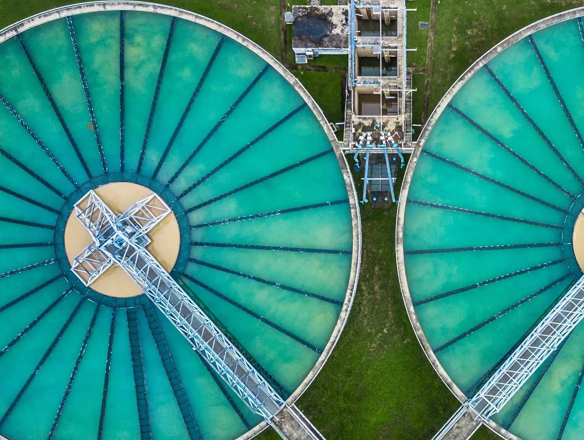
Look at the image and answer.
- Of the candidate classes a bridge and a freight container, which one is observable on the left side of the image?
bridge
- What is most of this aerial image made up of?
water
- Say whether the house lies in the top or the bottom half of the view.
top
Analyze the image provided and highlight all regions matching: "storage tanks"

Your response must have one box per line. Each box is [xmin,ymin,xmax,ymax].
[0,0,362,440]
[395,6,584,440]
